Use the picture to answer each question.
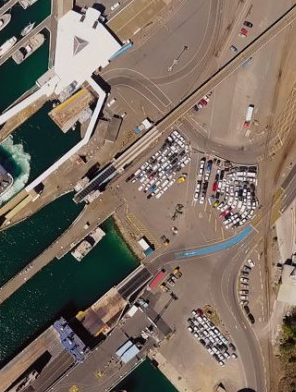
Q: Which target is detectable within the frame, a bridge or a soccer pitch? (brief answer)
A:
bridge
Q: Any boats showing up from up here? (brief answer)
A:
Yes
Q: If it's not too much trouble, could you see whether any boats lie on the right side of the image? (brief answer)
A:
No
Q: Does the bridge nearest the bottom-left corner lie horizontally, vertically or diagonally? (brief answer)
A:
diagonally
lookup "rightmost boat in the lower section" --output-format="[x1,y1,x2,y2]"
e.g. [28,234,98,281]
[71,228,105,261]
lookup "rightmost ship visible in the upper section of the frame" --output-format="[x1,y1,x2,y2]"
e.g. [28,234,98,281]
[48,87,95,134]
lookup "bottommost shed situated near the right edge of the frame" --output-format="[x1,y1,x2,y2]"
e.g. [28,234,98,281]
[274,285,296,307]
